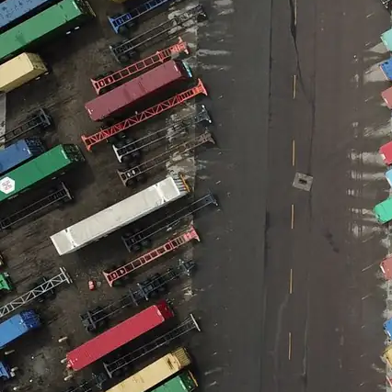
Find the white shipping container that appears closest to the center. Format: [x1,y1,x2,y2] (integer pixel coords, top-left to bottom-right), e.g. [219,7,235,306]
[51,175,190,255]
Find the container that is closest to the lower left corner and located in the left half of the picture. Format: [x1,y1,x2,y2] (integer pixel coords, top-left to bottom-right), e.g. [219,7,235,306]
[0,308,43,347]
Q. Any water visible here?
No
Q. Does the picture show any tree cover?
No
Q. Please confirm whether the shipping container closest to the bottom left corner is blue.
Yes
